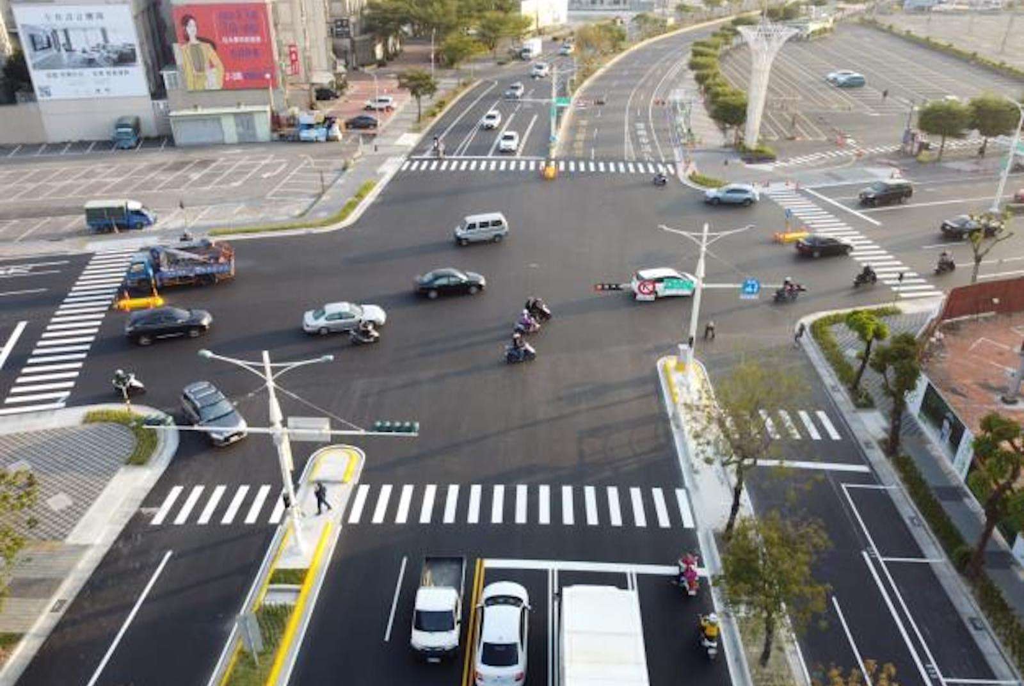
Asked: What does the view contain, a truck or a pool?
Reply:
truck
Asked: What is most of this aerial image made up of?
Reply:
paved ground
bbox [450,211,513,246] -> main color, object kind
gray car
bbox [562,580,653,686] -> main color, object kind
white truck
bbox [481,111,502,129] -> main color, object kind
white car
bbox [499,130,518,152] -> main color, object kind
white car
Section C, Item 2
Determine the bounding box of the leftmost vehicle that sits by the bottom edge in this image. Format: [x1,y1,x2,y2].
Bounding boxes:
[399,551,467,672]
